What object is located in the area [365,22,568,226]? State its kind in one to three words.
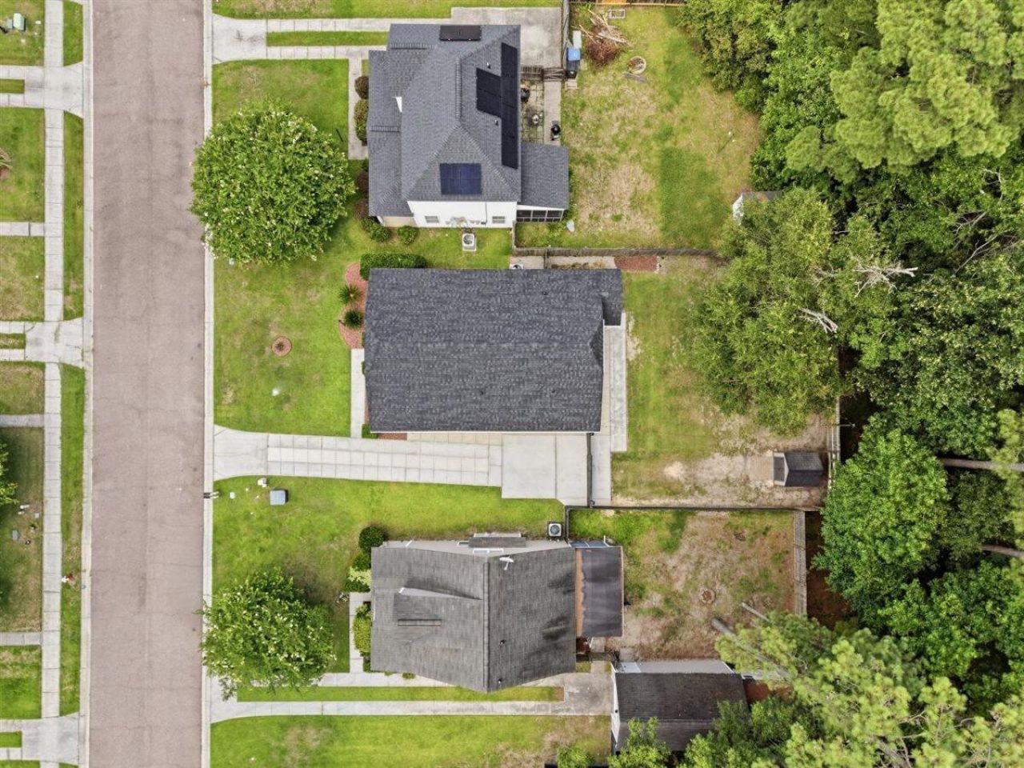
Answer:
house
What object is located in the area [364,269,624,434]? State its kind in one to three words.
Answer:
house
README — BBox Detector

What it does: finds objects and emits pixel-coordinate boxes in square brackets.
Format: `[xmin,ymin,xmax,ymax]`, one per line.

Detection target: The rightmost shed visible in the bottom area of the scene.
[774,451,827,485]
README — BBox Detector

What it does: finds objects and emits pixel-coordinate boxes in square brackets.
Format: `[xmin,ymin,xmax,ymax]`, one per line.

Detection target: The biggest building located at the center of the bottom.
[372,534,624,692]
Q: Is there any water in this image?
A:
No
